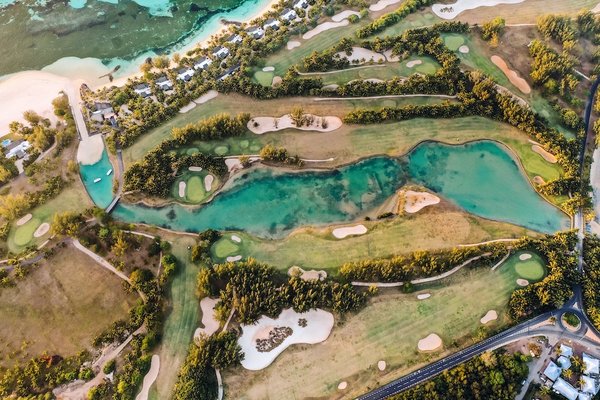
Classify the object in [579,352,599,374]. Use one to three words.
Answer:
house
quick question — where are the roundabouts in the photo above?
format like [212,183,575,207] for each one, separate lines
[555,305,588,337]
